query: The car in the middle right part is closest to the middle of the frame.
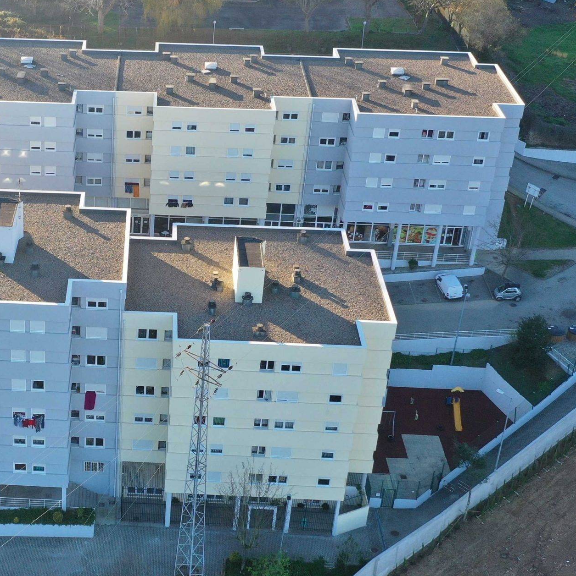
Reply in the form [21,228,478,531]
[436,273,465,298]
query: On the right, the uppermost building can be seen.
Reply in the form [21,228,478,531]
[298,48,524,262]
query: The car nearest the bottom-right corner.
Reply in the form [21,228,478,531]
[493,281,522,301]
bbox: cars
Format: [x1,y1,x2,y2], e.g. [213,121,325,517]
[436,273,465,298]
[493,281,522,301]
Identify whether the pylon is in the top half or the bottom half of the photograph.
bottom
